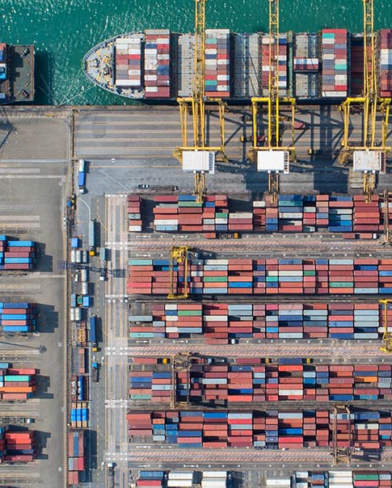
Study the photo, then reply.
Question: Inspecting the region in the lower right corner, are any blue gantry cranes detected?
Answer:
No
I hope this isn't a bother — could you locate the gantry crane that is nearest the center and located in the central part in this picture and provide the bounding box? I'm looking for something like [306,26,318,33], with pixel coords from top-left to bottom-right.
[168,245,194,300]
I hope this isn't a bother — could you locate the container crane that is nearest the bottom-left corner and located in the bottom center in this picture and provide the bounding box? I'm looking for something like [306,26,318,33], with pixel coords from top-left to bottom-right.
[169,352,197,411]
